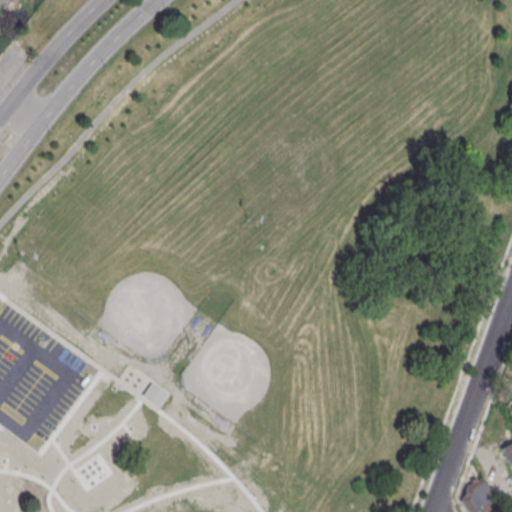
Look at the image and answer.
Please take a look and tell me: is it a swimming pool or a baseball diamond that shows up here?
baseball diamond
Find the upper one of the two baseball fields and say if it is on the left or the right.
left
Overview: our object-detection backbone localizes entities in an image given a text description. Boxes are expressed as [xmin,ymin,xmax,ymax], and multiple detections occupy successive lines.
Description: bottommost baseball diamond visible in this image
[182,326,271,423]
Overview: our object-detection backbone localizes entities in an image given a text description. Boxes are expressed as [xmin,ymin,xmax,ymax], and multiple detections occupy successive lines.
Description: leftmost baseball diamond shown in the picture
[98,272,198,360]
